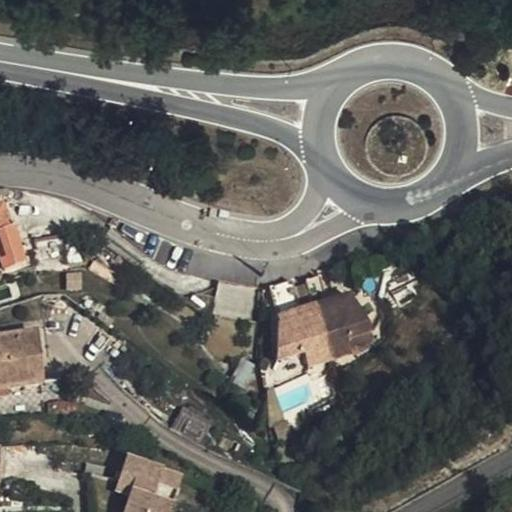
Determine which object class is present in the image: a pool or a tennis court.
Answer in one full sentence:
There is a pool in the scene.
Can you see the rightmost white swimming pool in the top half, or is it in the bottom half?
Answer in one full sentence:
It is in the bottom half that the rightmost white swimming pool appears.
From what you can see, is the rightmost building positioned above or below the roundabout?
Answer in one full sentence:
In the image, the rightmost building appears below the roundabout.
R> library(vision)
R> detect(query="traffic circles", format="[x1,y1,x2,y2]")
[297,40,510,226]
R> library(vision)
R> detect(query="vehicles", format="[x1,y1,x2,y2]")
[190,294,206,310]
[120,224,144,242]
[146,233,158,255]
[167,246,182,270]
[67,313,82,338]
[18,205,40,216]
[178,248,194,270]
[84,334,106,360]
[44,320,60,330]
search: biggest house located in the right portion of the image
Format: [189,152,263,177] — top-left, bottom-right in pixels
[278,292,375,368]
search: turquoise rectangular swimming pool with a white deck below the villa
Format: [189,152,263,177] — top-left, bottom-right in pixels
[275,371,330,427]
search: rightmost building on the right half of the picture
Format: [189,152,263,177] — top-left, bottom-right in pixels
[379,266,418,308]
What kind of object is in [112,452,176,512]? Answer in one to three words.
house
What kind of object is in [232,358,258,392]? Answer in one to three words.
shed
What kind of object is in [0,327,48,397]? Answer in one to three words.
house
